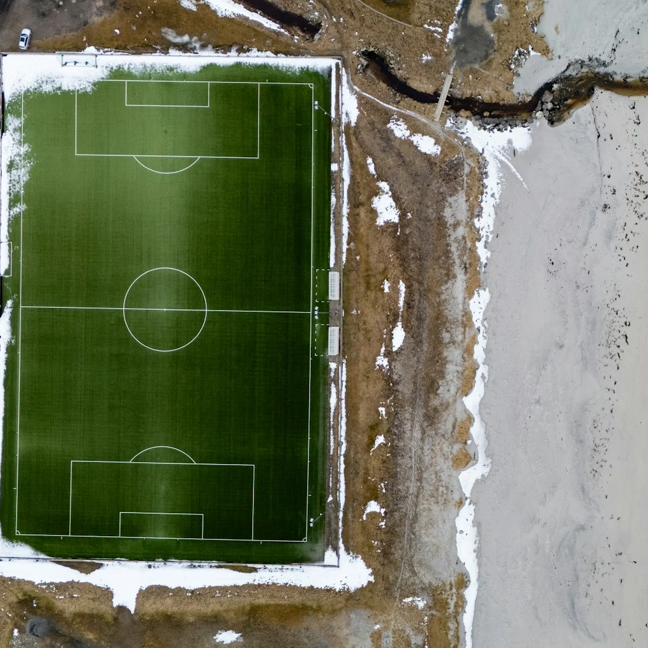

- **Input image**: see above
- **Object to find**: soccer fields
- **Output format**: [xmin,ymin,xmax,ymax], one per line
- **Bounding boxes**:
[0,55,332,565]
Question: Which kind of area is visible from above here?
sports ground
